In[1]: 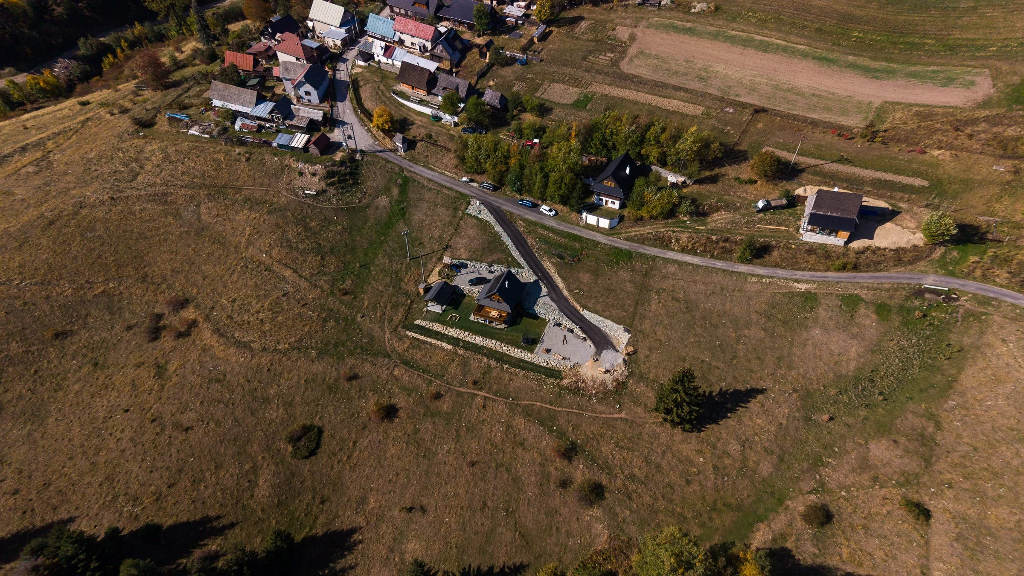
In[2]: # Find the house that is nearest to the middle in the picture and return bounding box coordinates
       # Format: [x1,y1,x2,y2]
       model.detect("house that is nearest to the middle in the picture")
[475,269,524,332]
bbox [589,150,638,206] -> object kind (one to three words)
house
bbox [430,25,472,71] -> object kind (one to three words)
barn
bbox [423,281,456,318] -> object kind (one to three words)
building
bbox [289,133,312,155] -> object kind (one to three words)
shed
